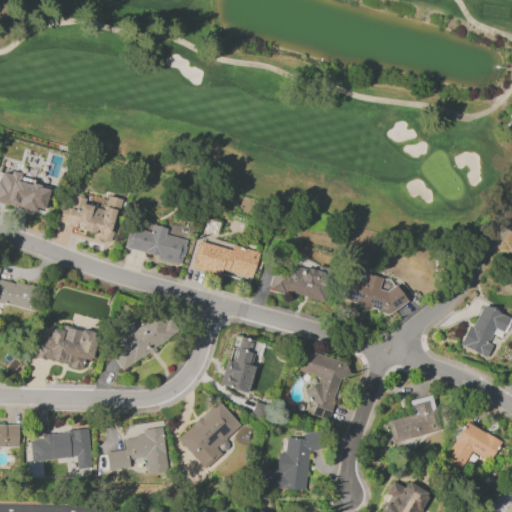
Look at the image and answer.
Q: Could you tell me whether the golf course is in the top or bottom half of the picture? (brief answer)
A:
top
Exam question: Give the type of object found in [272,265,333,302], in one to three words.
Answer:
house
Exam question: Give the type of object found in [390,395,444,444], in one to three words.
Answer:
house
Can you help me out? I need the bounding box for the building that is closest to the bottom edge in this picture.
[381,478,432,512]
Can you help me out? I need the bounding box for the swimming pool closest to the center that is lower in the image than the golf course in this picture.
[290,376,304,404]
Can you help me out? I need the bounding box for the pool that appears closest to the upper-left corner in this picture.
[48,155,64,178]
